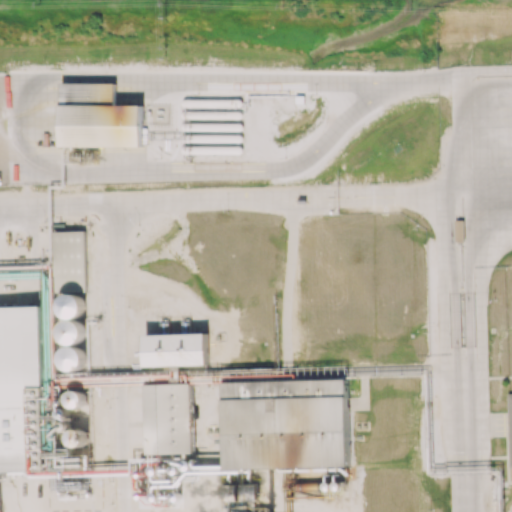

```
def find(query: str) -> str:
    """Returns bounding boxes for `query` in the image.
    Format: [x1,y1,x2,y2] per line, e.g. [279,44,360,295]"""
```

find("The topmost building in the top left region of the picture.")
[54,84,144,148]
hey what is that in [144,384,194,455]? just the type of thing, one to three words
shed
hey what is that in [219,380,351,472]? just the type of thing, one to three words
building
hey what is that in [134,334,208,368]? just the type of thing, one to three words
building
